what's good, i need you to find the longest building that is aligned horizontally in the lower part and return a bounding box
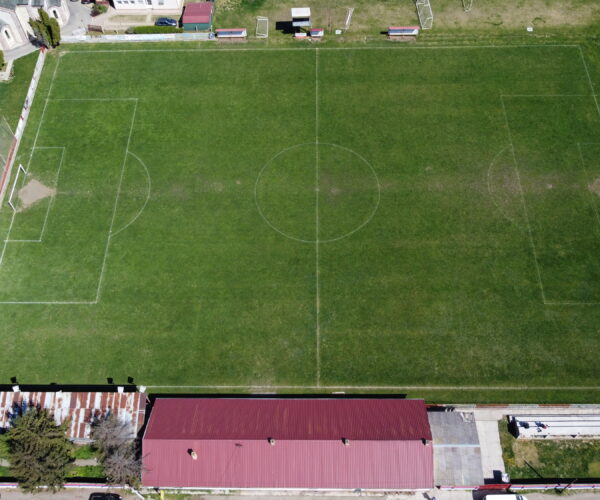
[142,397,434,491]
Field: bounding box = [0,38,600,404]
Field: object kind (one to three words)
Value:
soccer field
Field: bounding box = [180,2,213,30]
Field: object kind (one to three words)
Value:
shed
